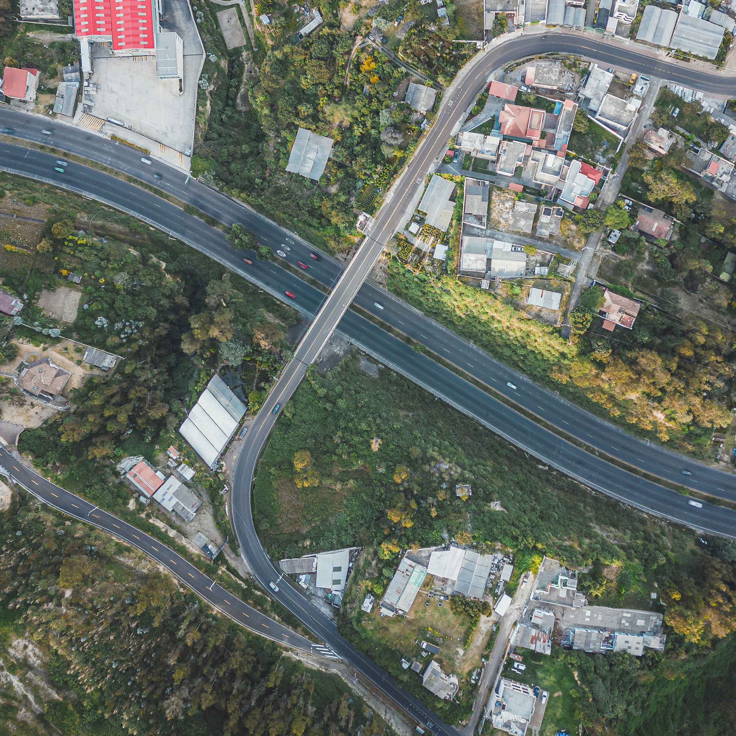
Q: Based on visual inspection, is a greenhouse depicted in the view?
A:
Yes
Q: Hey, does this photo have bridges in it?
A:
Yes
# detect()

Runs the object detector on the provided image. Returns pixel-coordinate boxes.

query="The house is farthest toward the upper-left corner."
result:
[20,0,61,19]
